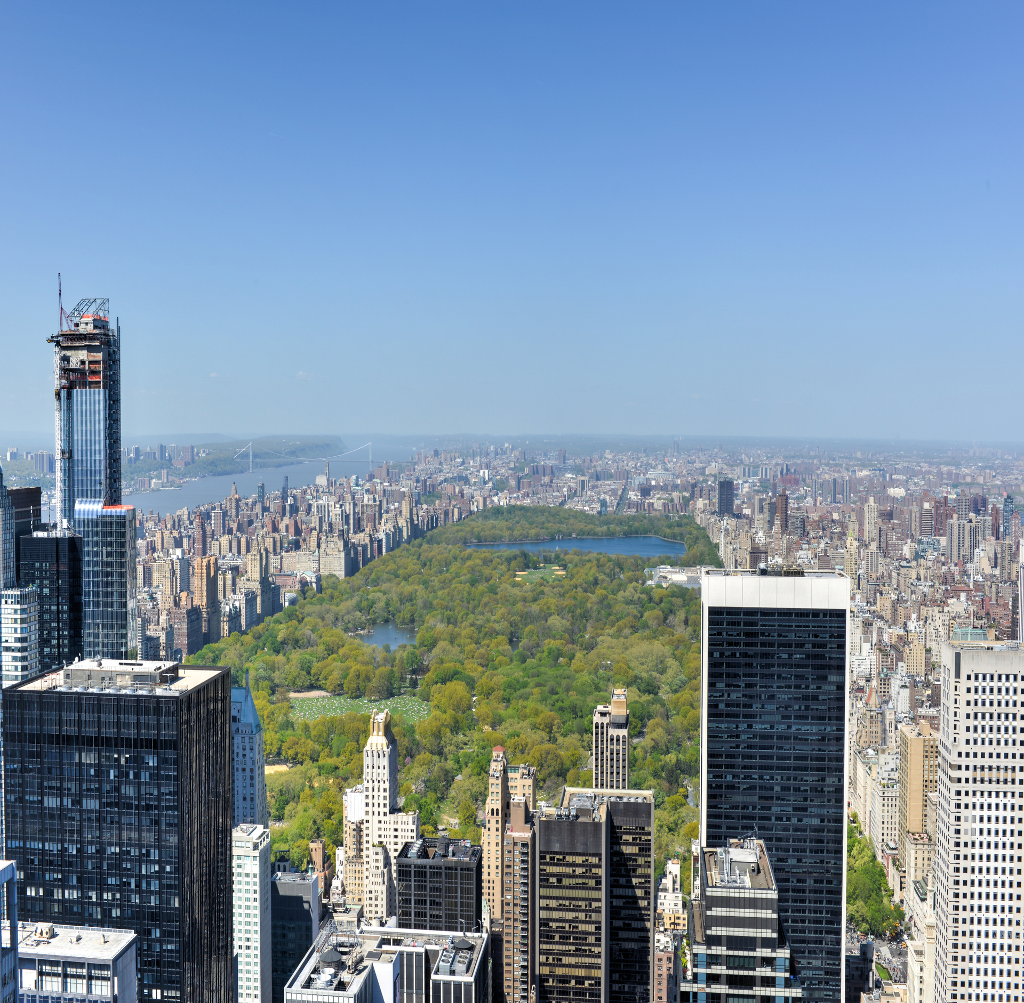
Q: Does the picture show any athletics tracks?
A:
No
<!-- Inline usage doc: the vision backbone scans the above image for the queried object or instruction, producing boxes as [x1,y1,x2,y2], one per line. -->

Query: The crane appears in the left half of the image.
[45,273,79,530]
